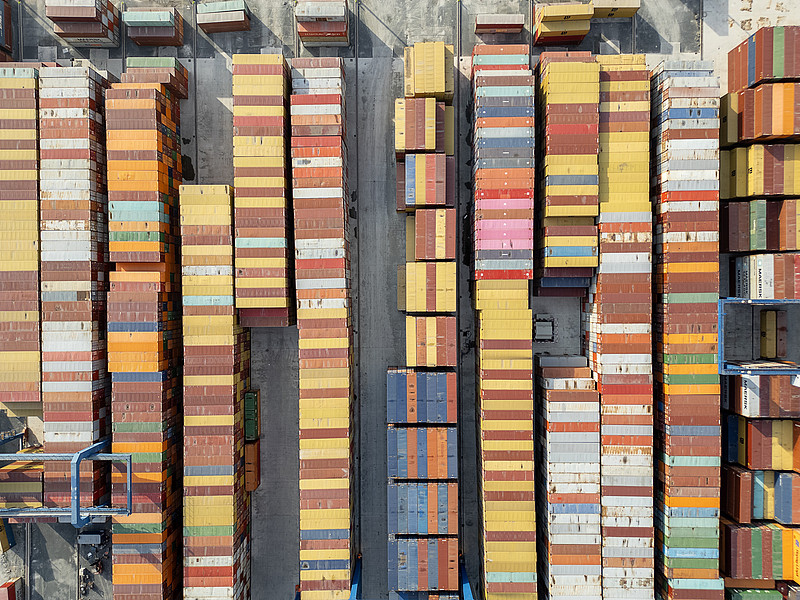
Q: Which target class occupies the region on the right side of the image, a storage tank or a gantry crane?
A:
gantry crane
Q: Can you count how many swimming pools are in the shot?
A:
zero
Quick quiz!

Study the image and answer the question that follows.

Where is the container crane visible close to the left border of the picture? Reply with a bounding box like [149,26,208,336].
[0,420,137,529]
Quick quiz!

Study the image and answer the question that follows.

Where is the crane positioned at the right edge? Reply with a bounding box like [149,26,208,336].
[714,298,800,373]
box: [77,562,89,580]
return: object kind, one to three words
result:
vehicle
